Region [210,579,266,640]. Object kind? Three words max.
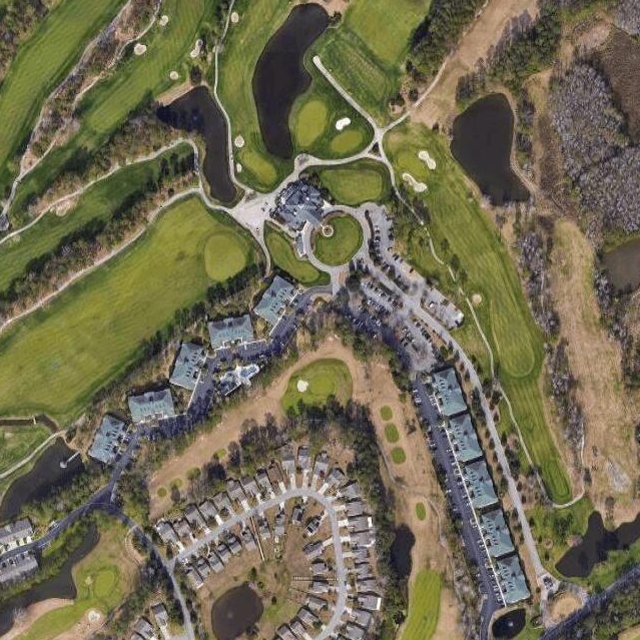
pond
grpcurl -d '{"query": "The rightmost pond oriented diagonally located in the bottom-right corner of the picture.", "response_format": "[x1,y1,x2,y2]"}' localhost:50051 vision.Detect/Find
[555,512,640,577]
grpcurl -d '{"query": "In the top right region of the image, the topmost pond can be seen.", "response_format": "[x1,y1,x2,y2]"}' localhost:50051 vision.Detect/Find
[449,92,532,205]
